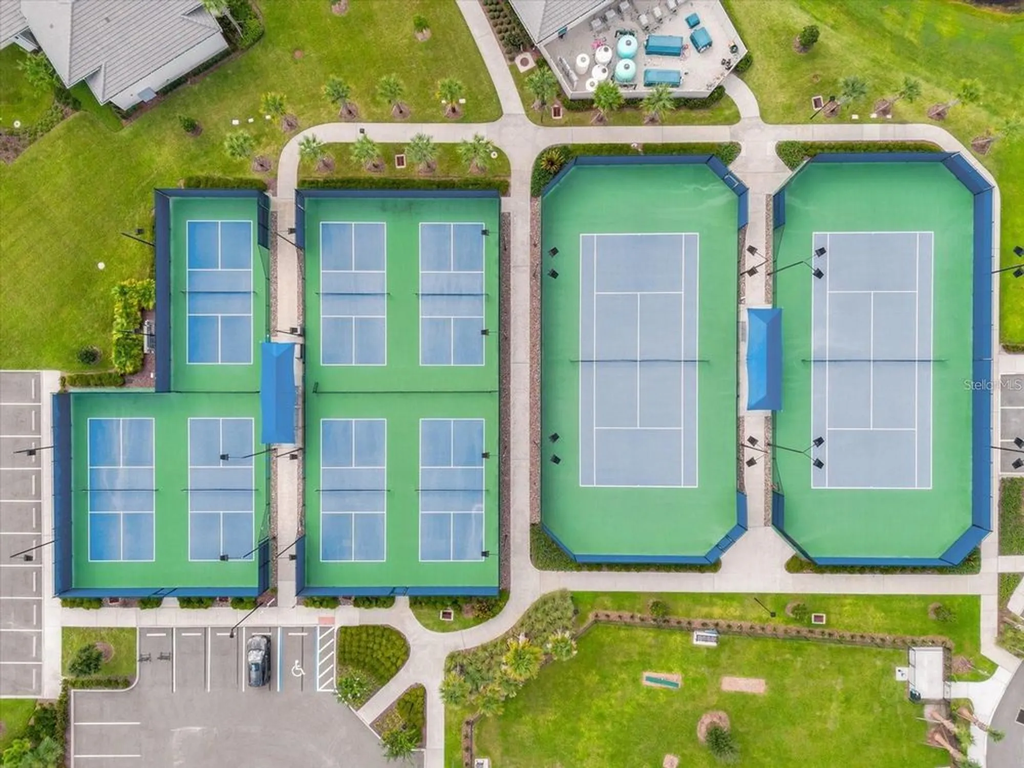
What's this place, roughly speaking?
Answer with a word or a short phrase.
sports ground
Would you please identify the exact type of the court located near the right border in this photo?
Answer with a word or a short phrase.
tennis court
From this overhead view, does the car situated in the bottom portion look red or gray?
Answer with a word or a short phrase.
gray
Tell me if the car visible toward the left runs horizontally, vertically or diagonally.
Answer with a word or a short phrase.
vertically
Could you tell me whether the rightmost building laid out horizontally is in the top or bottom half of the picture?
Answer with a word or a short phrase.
top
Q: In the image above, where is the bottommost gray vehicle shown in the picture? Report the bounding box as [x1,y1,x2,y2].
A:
[244,637,270,688]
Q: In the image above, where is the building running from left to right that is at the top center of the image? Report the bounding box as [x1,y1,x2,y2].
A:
[505,0,621,52]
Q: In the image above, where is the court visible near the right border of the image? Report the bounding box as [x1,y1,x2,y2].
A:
[772,161,974,560]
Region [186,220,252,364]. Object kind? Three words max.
sports court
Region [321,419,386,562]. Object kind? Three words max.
sports court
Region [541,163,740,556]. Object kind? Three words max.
tennis court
